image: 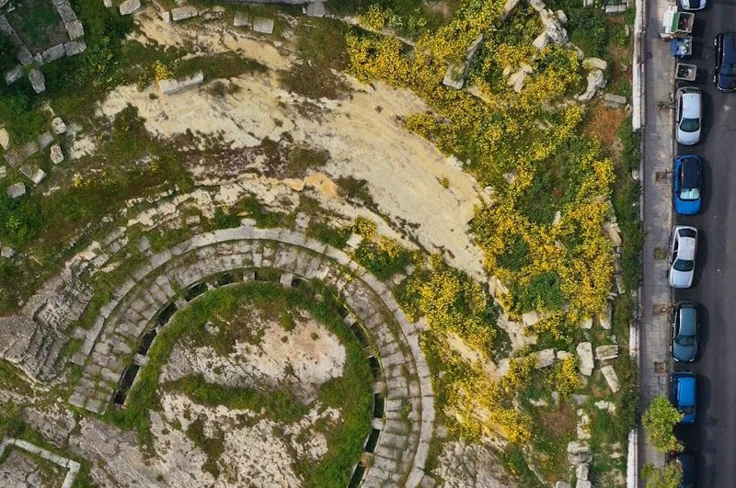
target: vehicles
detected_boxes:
[663,446,695,488]
[667,372,699,426]
[666,225,699,291]
[668,303,702,364]
[670,87,703,149]
[677,0,705,13]
[669,155,704,219]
